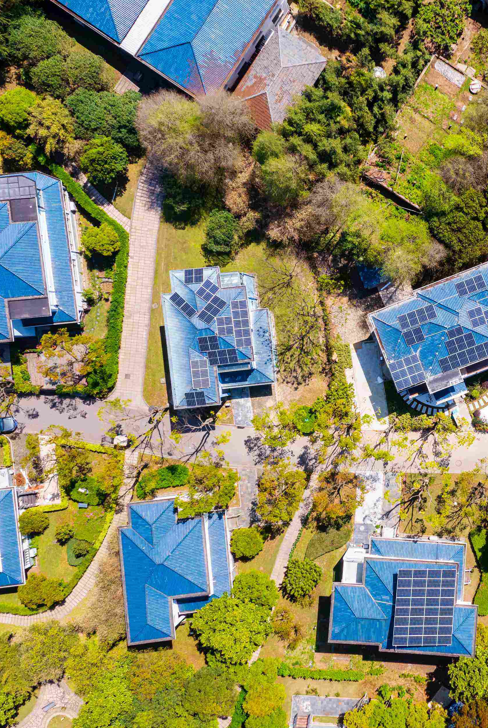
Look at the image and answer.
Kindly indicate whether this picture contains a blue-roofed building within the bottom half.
Yes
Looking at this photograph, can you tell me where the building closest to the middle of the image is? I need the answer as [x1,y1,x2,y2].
[158,265,280,410]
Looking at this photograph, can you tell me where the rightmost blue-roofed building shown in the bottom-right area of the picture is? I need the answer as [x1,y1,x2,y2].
[328,533,479,660]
